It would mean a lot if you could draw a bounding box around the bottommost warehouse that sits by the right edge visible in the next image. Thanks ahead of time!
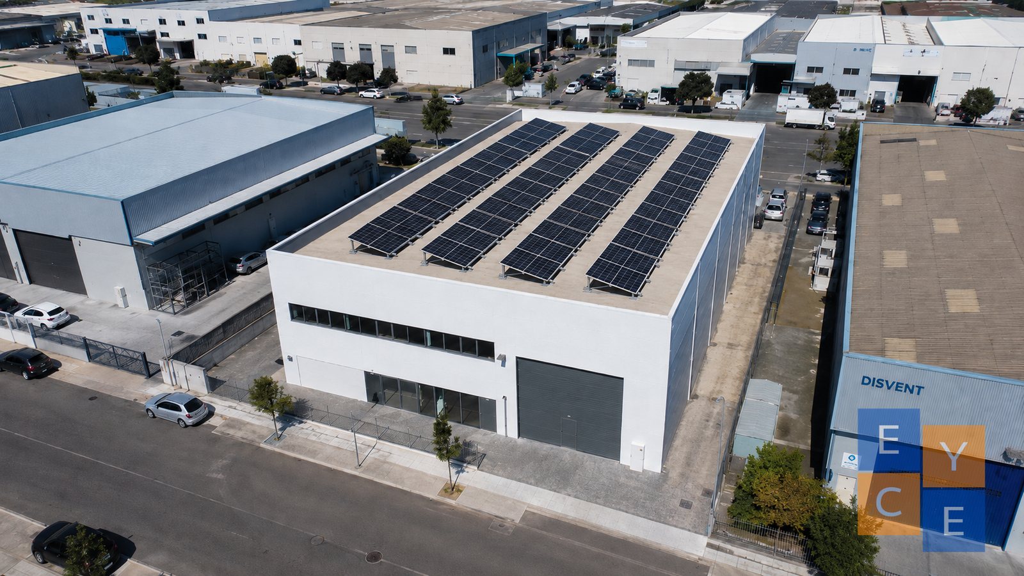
[826,120,1024,544]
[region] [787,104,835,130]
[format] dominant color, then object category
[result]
white truck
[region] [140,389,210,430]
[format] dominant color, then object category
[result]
gray car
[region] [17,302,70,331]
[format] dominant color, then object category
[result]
white car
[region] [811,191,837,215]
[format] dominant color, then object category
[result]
black car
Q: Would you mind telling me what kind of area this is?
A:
industrial area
